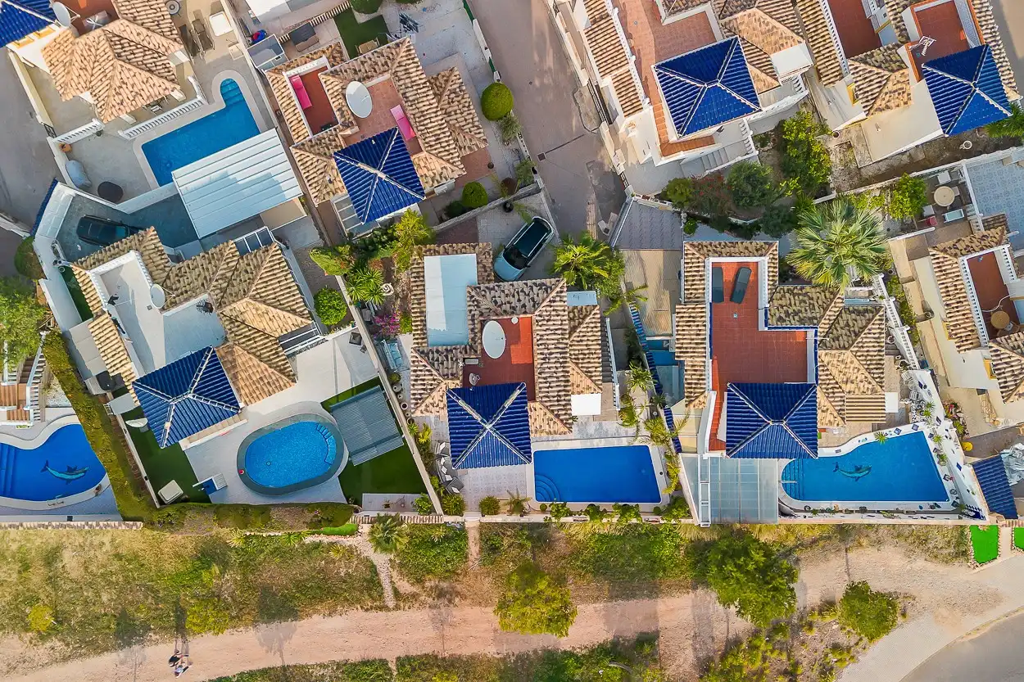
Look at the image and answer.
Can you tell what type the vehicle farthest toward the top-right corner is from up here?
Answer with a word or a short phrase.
automobile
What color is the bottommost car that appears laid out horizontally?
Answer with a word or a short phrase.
black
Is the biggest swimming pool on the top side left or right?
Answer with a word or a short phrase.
left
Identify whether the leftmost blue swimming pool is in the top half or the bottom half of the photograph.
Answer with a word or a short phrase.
bottom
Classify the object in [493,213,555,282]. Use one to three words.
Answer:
car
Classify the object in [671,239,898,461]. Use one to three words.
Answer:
house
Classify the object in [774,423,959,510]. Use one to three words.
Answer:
swimming pool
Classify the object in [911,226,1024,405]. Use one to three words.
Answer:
house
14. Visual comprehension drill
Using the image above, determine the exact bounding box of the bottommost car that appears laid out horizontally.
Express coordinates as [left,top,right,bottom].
[76,214,149,246]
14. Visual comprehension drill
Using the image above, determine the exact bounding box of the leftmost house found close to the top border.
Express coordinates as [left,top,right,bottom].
[0,0,203,132]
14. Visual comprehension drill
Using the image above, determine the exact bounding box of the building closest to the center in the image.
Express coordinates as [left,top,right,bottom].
[408,240,620,471]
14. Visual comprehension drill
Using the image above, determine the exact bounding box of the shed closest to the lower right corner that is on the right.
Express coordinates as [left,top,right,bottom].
[967,455,1018,519]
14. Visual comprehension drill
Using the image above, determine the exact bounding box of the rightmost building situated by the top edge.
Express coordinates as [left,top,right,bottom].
[795,0,1021,165]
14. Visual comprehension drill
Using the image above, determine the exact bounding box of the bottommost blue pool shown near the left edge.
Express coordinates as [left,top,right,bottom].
[0,415,111,509]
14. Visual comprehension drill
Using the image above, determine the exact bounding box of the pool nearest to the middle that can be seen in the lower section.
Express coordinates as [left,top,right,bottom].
[528,439,668,509]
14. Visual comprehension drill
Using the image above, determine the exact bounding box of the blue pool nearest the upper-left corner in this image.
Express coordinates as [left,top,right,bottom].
[130,68,294,207]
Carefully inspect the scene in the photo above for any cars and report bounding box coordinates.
[493,213,555,282]
[76,214,149,246]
